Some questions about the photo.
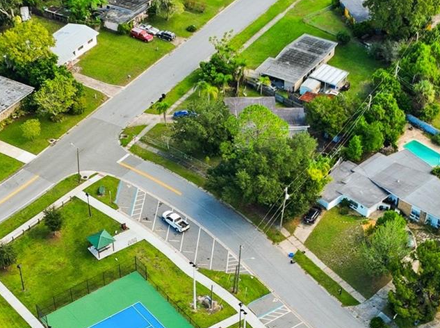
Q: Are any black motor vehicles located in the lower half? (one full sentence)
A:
Yes, the scene does show a black motor vehicle in the lower half.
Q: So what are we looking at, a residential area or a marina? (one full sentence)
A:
The picture captures a residential area.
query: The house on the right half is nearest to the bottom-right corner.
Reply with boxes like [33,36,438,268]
[322,150,440,231]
